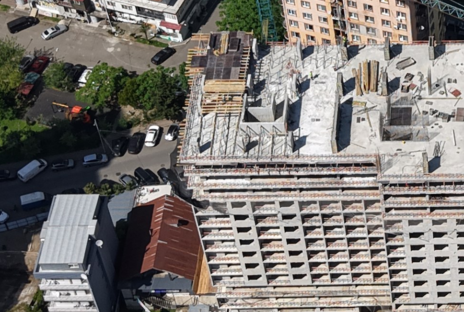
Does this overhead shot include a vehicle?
Yes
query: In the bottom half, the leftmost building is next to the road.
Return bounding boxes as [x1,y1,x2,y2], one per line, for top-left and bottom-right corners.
[34,187,121,312]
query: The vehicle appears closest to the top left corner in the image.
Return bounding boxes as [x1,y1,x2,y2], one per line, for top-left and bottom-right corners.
[8,12,38,36]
